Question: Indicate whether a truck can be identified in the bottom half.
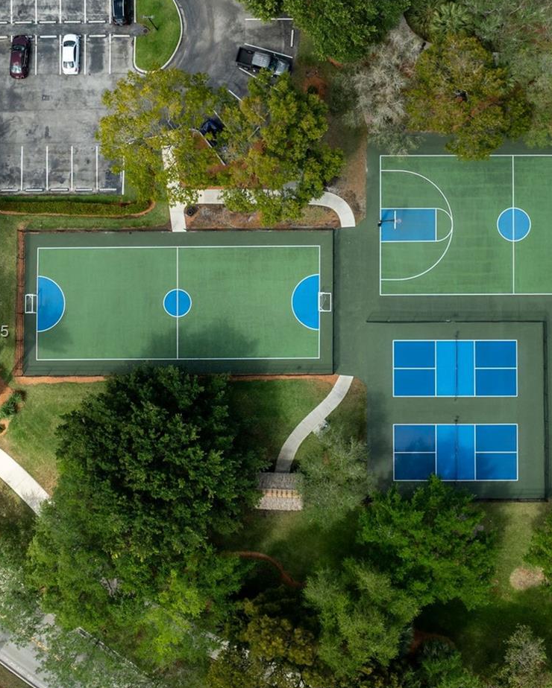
No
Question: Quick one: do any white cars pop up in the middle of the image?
No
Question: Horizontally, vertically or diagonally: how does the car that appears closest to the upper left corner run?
vertically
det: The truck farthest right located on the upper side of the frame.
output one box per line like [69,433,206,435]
[234,44,290,78]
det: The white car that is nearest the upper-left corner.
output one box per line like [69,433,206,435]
[59,34,82,76]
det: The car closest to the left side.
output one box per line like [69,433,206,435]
[9,36,31,79]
